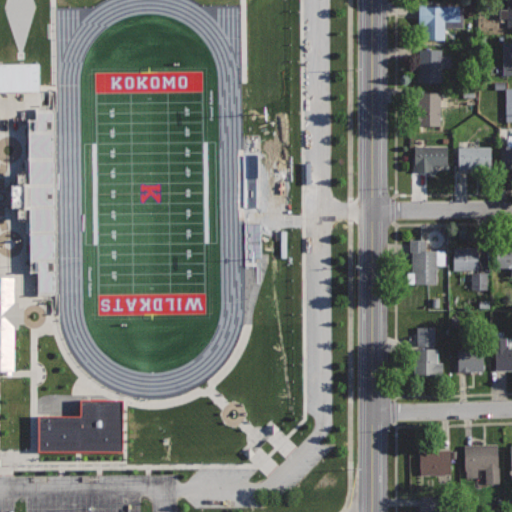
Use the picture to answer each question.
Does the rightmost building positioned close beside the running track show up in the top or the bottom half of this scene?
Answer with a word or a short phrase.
bottom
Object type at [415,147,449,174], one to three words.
house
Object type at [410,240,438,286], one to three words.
house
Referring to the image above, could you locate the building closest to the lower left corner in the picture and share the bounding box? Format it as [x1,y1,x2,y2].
[38,402,124,458]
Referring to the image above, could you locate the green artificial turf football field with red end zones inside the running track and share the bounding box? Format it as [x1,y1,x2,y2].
[81,14,222,372]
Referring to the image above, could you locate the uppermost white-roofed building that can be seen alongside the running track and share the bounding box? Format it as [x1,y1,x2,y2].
[0,64,40,92]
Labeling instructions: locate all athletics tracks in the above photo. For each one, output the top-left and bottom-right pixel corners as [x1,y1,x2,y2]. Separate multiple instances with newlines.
[56,0,246,397]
